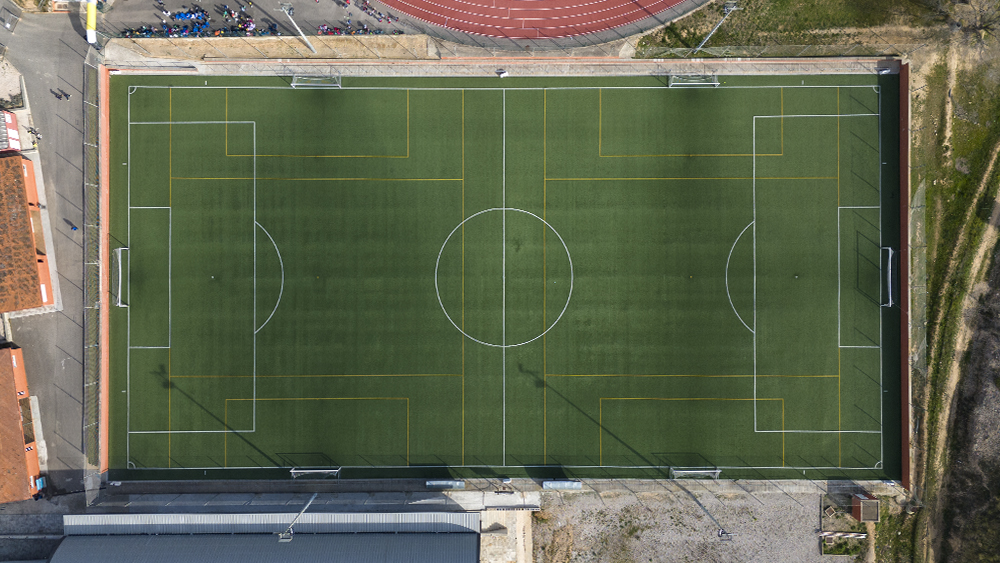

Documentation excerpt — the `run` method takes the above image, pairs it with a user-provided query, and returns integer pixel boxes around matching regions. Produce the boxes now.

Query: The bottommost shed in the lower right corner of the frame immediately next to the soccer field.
[853,495,880,522]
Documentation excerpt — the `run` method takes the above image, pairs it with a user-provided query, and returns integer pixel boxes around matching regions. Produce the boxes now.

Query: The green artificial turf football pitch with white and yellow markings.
[108,76,901,478]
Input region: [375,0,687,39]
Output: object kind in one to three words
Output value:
running track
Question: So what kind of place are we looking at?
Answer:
sports ground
